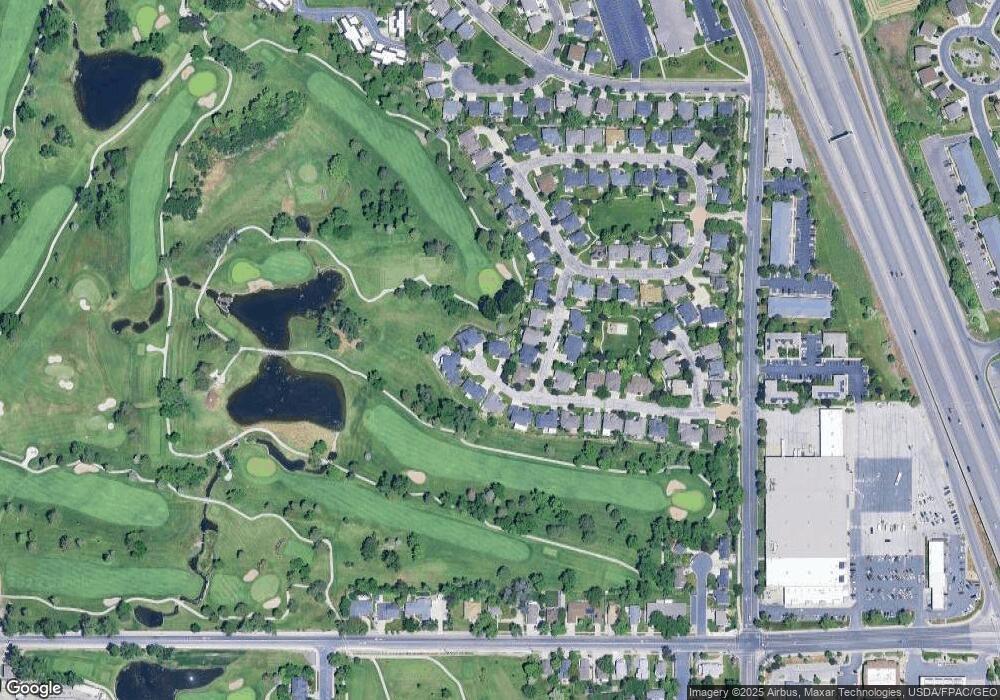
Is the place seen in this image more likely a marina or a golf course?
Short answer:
golf course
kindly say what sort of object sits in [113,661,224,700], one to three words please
pond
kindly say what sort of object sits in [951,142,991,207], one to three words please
building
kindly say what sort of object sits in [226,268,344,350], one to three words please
pond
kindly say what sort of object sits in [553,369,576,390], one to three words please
house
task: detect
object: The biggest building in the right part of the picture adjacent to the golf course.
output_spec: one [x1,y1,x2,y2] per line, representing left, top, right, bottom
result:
[766,457,847,558]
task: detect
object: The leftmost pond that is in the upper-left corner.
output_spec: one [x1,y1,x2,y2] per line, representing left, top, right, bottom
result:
[74,50,163,131]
